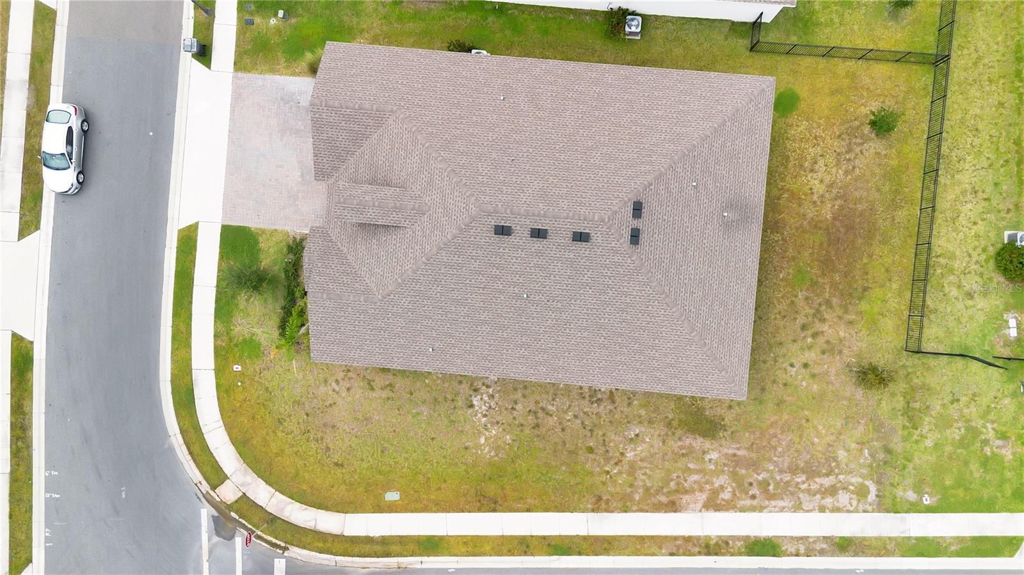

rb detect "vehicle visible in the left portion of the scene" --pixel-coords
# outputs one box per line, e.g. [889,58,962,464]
[33,103,88,193]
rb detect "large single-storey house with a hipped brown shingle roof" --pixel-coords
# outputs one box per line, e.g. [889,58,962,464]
[302,40,776,402]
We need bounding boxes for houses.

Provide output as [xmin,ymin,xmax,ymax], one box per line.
[503,0,798,22]
[302,40,776,402]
